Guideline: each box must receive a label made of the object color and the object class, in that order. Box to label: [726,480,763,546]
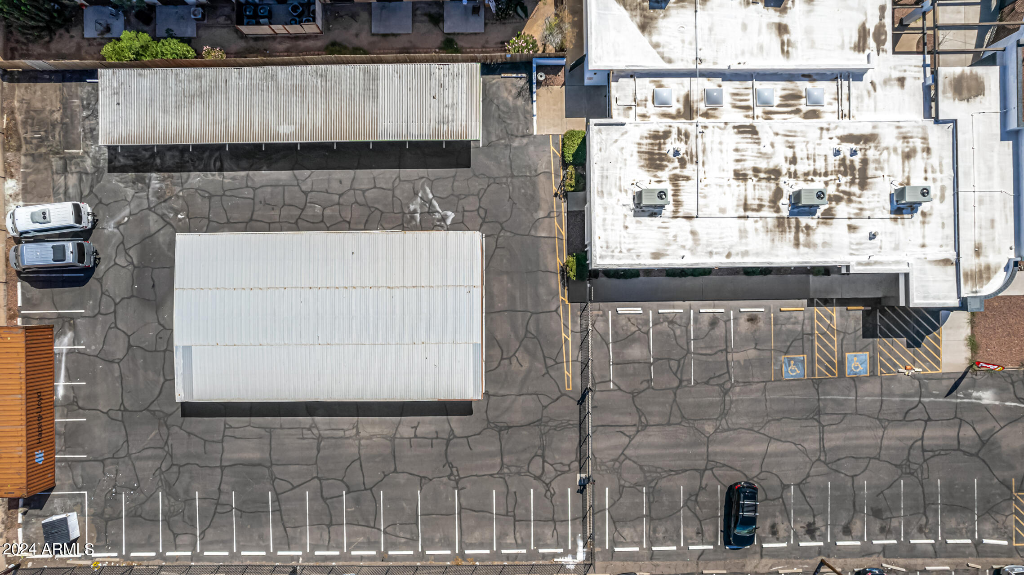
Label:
black car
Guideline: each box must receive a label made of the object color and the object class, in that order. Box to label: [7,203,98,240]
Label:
white van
